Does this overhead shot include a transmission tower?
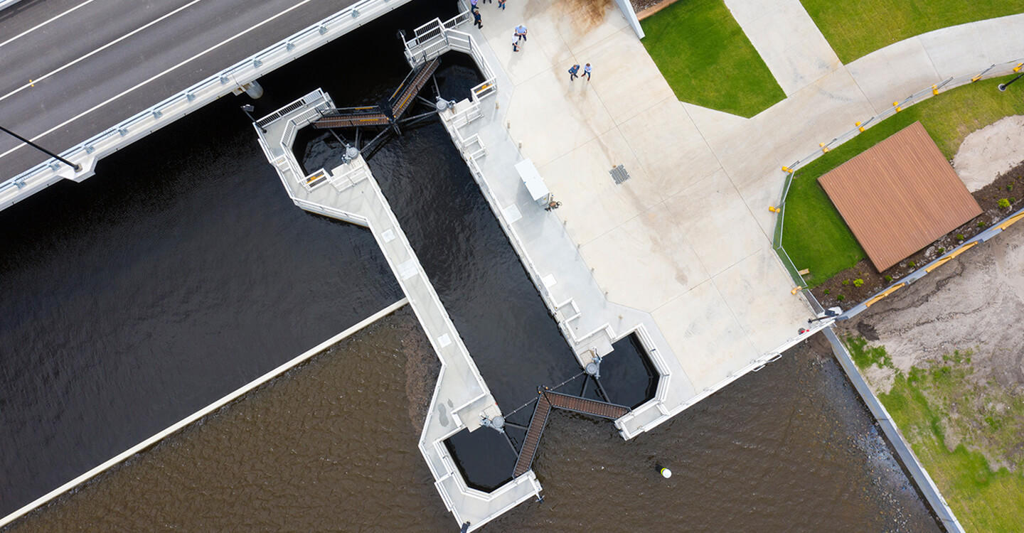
No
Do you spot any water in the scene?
Yes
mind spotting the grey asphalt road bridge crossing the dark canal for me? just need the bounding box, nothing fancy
[0,0,420,213]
